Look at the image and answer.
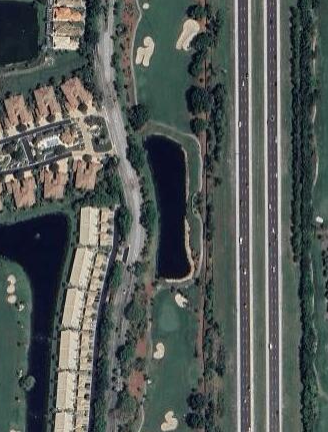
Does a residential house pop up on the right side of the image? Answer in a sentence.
No, there is no residential house on the right side of the image.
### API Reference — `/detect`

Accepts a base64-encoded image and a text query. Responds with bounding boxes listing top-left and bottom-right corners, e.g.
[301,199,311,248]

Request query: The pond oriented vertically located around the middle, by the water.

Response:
[145,133,190,280]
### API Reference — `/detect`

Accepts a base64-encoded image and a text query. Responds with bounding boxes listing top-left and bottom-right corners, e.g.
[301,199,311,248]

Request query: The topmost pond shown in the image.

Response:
[0,0,38,66]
